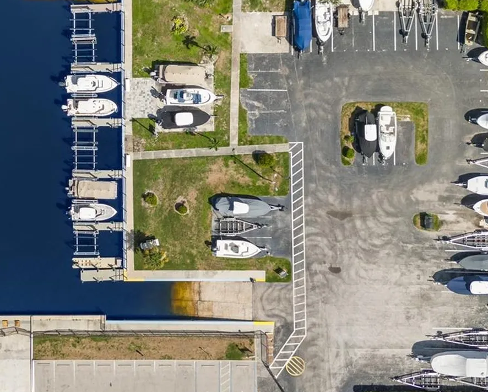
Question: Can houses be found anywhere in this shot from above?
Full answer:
No, there appears to be no house in this shot.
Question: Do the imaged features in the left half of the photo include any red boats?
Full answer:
No, there is no red boat in the left half of the photo.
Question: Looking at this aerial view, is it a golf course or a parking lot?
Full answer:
This image shows a parking lot.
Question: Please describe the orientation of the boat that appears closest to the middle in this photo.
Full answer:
In this picture, the boat that appears closest to the middle lies from left to right.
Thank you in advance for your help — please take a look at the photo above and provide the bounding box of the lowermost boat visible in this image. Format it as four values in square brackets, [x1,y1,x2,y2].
[429,351,488,375]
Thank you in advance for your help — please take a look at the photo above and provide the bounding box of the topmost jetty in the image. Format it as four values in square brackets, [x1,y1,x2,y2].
[70,2,121,14]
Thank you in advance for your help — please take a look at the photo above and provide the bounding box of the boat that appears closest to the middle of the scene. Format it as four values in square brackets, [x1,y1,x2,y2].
[209,195,271,216]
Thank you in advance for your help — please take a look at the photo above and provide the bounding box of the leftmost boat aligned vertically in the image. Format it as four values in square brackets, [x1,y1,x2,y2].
[291,0,310,51]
